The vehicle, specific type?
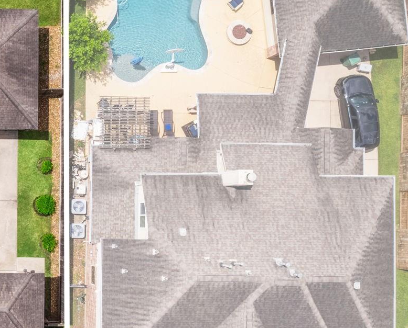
automobile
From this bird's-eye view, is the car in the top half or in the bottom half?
top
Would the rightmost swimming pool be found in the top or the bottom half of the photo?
top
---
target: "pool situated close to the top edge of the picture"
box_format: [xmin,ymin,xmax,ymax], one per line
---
[106,0,213,87]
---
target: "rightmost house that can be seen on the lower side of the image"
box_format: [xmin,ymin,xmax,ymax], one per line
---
[84,93,398,328]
